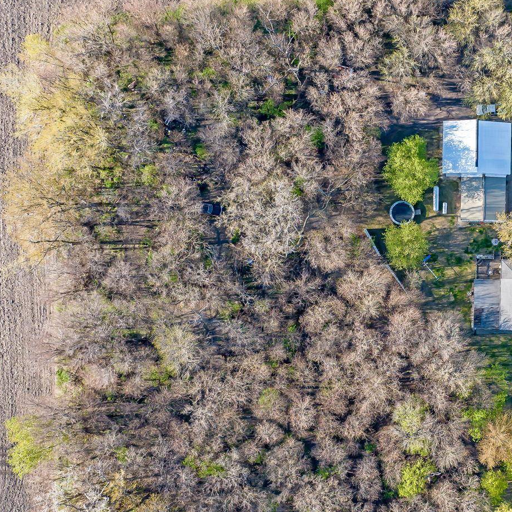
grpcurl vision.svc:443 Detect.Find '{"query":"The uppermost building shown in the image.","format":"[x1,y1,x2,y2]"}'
[442,117,512,221]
